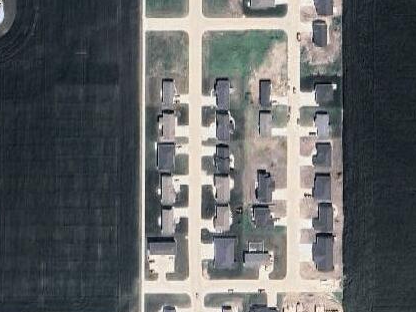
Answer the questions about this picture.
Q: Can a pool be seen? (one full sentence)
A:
No, I can see no pool in this picture.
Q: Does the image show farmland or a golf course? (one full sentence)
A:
It's farmland.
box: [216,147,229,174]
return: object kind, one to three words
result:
house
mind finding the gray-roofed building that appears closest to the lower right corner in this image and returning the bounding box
[312,236,333,272]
